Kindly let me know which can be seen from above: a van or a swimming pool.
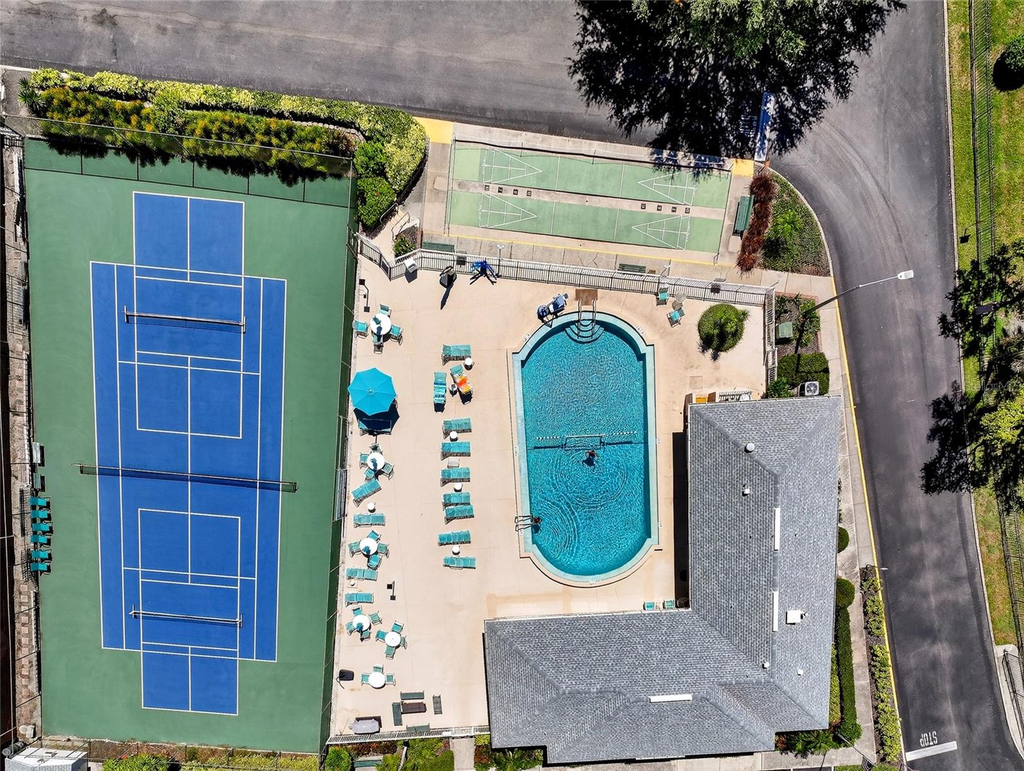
swimming pool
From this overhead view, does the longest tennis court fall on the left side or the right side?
left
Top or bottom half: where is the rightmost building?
bottom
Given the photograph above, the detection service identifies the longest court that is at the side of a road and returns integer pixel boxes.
[24,138,347,755]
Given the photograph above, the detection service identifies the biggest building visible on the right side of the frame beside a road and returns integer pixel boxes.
[482,386,842,765]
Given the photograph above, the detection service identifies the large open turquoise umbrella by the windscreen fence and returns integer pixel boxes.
[350,365,399,416]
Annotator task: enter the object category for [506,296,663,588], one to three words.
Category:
swimming pool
